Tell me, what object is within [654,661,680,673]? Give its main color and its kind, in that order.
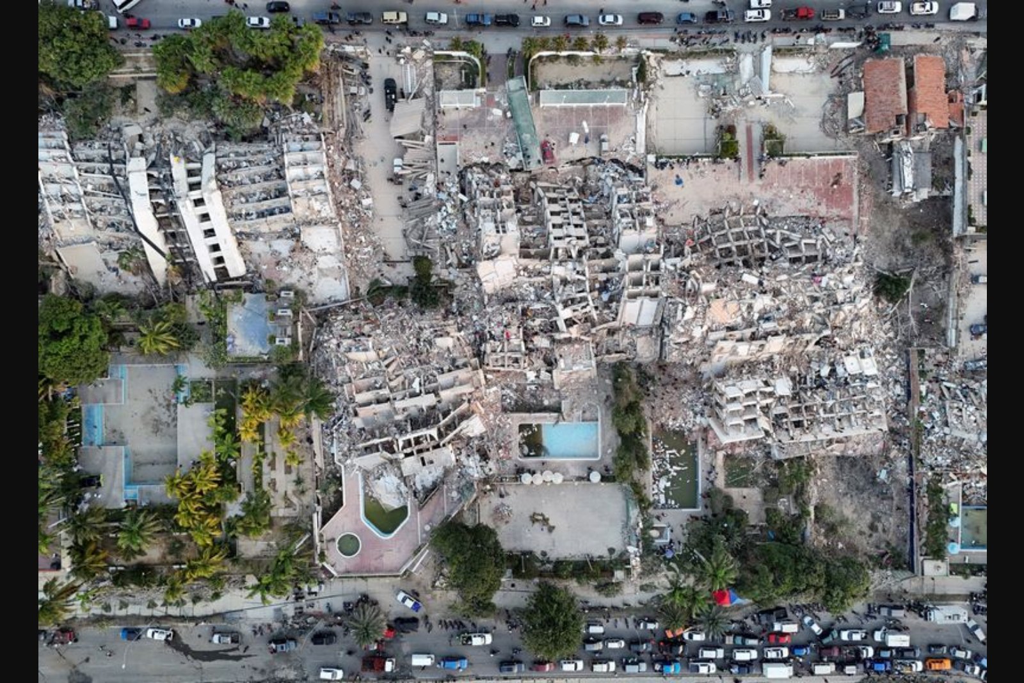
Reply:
blue vehicle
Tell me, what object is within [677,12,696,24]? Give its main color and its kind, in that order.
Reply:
blue vehicle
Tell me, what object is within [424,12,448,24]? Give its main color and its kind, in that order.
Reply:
white vehicle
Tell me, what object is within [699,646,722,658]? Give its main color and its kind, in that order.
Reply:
white vehicle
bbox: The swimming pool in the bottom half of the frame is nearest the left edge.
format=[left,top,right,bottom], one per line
[80,363,188,503]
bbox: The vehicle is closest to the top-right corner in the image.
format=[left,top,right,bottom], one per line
[944,4,977,21]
